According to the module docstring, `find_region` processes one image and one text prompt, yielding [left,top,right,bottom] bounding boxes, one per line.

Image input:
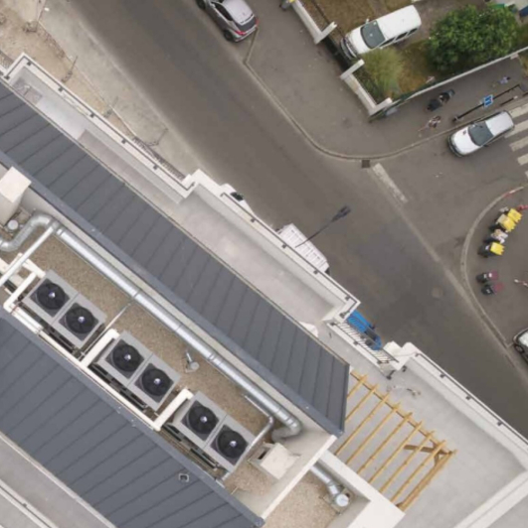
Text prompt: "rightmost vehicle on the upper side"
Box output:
[442,106,519,160]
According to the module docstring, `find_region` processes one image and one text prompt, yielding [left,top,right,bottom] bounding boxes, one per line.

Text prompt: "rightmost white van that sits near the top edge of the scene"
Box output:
[341,0,428,62]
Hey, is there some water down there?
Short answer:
No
